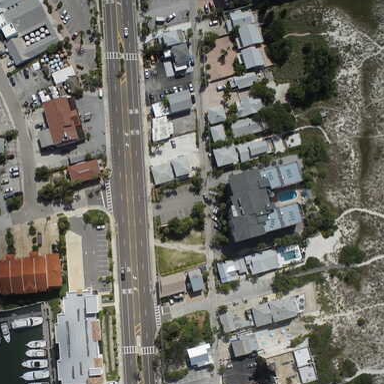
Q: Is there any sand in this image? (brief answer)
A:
Yes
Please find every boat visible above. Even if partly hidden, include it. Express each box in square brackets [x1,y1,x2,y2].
[17,368,50,380]
[11,317,45,330]
[26,340,47,349]
[21,360,48,368]
[24,349,47,357]
[0,322,10,343]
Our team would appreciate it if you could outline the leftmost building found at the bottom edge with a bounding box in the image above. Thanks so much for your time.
[55,288,102,384]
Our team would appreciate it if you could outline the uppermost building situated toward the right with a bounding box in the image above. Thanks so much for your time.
[229,9,255,28]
